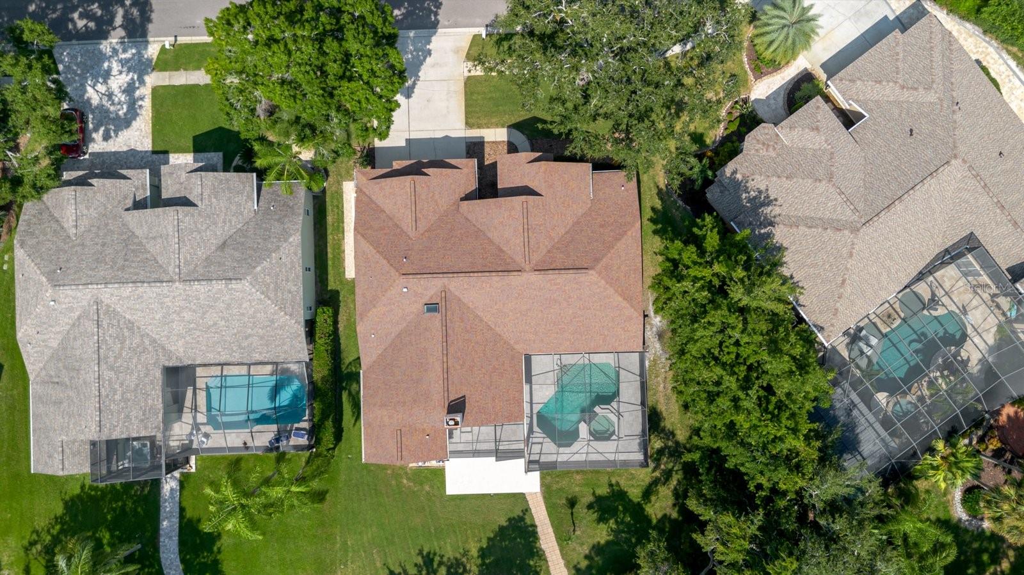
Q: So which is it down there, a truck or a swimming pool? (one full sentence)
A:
Visible in the photo is a swimming pool.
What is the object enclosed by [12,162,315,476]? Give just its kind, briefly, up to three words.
house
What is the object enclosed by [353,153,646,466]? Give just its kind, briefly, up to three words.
house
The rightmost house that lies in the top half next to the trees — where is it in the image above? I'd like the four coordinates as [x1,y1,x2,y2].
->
[704,12,1024,358]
